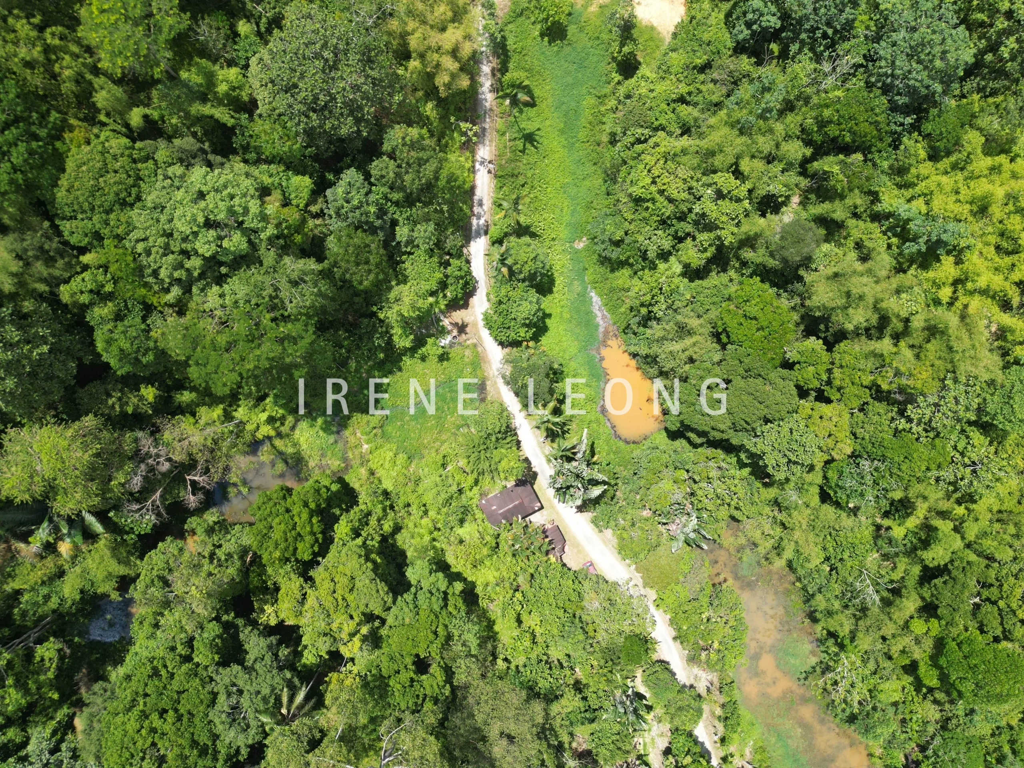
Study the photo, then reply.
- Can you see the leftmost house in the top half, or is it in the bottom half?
bottom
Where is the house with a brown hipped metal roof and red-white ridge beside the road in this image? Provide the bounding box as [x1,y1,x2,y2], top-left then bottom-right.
[479,476,544,532]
